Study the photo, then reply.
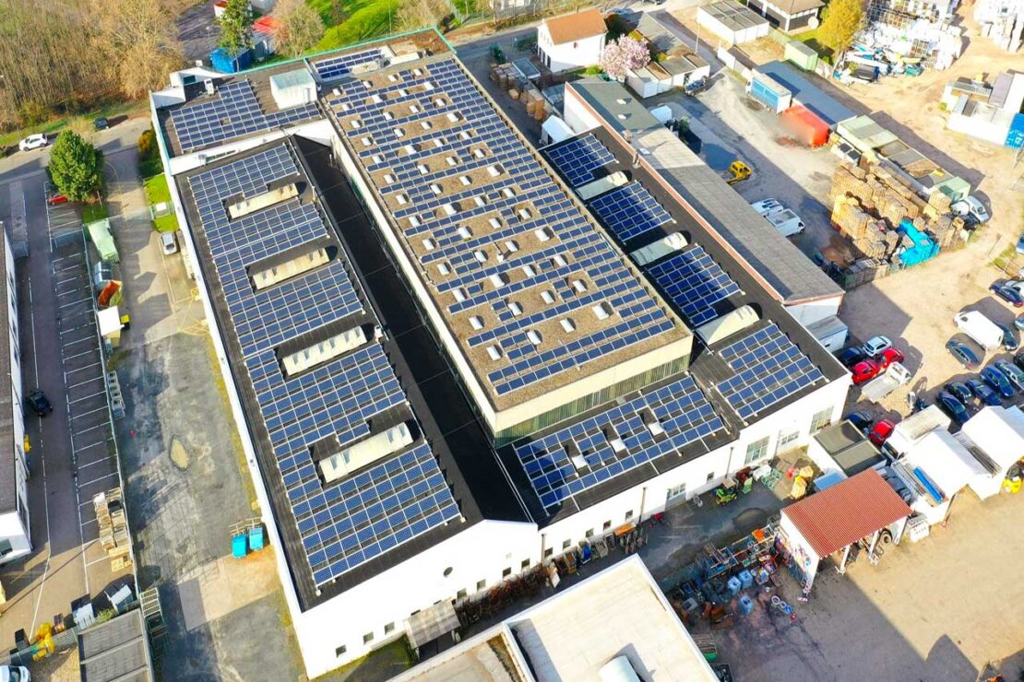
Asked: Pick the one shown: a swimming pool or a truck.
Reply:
truck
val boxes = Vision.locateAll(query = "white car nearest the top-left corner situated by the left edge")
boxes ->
[18,132,49,152]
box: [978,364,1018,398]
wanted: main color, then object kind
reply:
blue car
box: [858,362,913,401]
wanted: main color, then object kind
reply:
white truck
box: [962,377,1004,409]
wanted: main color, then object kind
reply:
blue car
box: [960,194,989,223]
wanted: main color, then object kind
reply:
white van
